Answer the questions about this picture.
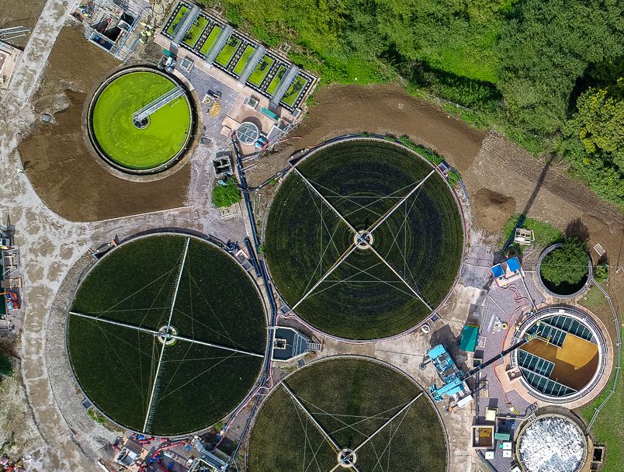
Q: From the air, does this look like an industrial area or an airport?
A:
industrial area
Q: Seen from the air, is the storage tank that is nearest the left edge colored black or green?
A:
green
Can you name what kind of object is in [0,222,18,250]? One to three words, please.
work vehicle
